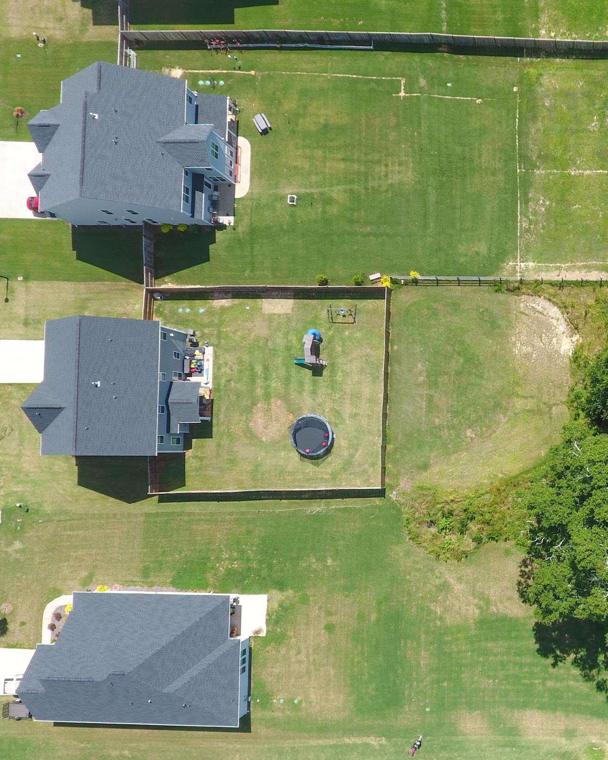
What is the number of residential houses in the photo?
three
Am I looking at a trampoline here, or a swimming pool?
trampoline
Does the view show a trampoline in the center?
Yes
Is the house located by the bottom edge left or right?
left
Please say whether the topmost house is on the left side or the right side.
left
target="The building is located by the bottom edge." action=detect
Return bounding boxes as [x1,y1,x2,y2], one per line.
[16,588,249,729]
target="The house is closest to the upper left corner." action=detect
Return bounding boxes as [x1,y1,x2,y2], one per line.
[27,62,238,226]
